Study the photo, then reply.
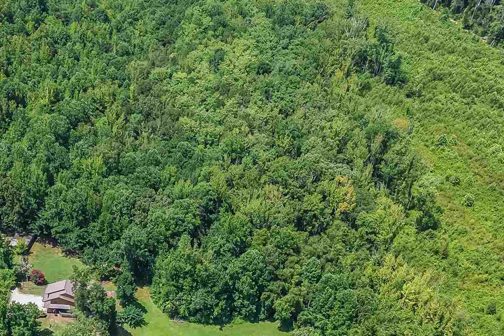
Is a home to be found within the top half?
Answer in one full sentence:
No, no home can be made out within the top half.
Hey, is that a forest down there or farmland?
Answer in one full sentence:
The area seen from above is a forest.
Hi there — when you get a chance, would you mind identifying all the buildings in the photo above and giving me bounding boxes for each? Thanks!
[11,233,34,253]
[42,270,88,314]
